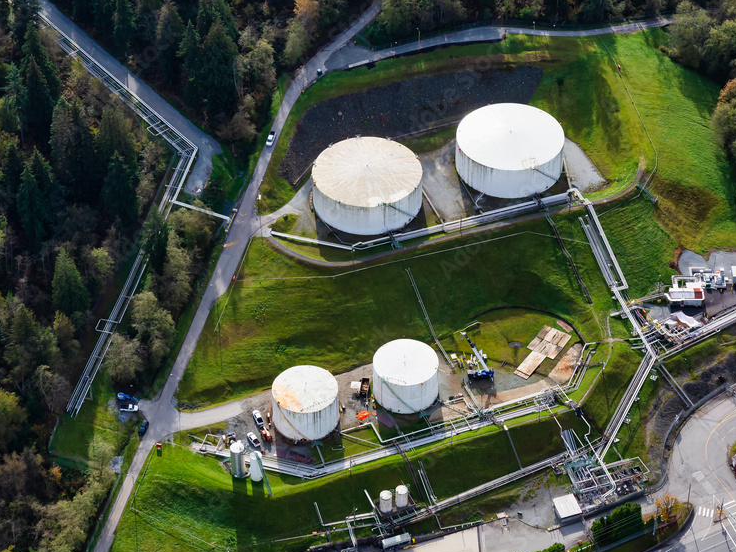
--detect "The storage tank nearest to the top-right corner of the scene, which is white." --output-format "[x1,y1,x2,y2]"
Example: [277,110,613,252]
[459,105,571,204]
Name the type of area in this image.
industrial area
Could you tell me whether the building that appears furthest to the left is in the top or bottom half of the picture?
bottom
